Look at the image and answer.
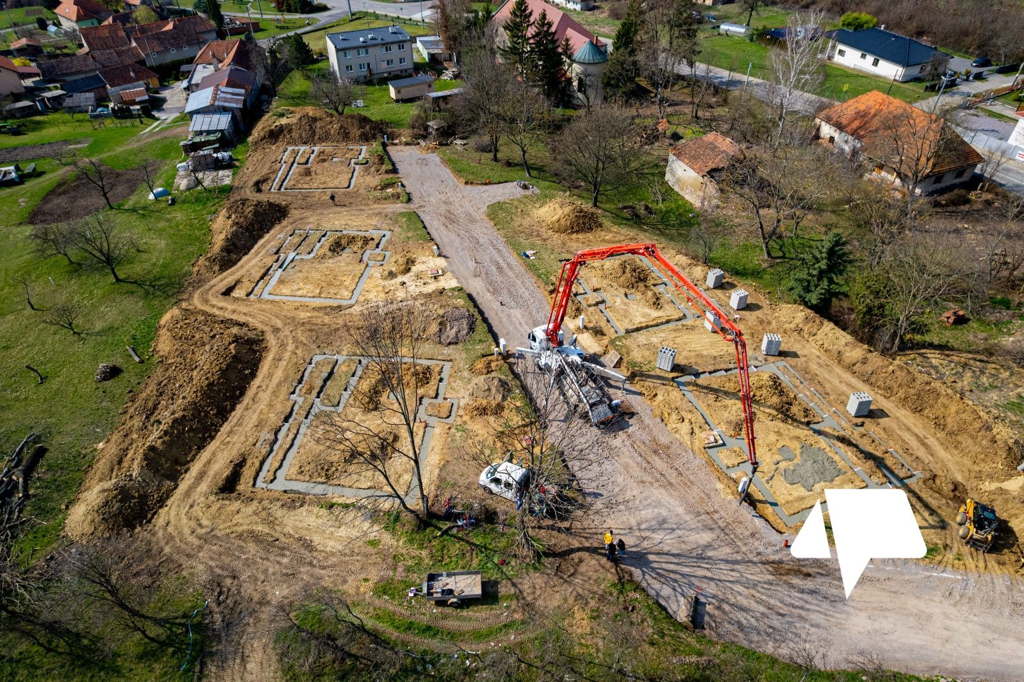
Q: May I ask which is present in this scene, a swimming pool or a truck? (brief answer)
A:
truck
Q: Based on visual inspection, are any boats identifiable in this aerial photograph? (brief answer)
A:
No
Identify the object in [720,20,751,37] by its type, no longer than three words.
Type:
shed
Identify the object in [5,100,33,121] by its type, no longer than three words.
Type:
shed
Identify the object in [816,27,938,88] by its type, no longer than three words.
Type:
house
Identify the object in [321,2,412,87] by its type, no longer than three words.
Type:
building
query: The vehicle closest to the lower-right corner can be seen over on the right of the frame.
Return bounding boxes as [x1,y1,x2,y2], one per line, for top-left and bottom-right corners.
[962,490,1005,557]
